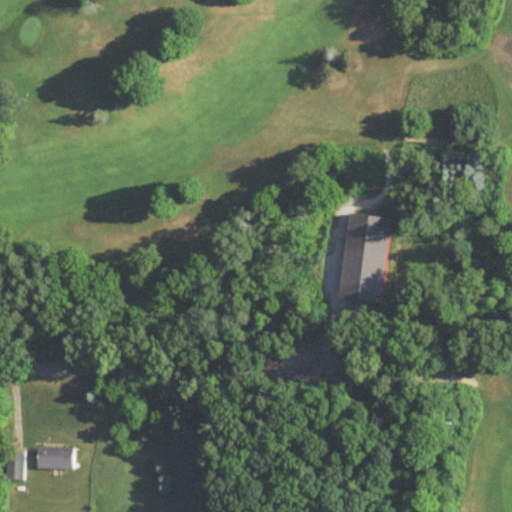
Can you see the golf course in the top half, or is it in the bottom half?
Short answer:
top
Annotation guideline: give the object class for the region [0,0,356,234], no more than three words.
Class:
golf course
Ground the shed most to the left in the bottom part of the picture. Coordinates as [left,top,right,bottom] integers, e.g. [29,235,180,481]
[8,449,28,480]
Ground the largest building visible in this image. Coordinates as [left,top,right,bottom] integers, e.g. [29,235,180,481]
[340,212,394,304]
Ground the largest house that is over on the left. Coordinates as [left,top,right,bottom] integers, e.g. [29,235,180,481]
[37,444,79,474]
